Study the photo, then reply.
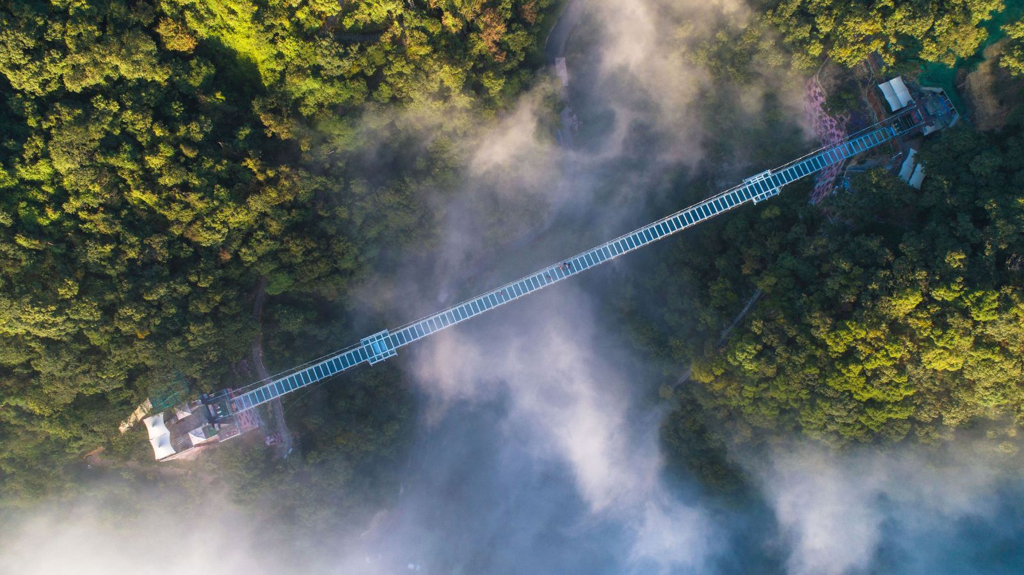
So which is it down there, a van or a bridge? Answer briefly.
bridge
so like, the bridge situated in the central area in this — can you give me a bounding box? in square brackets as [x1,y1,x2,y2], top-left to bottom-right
[197,106,928,431]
